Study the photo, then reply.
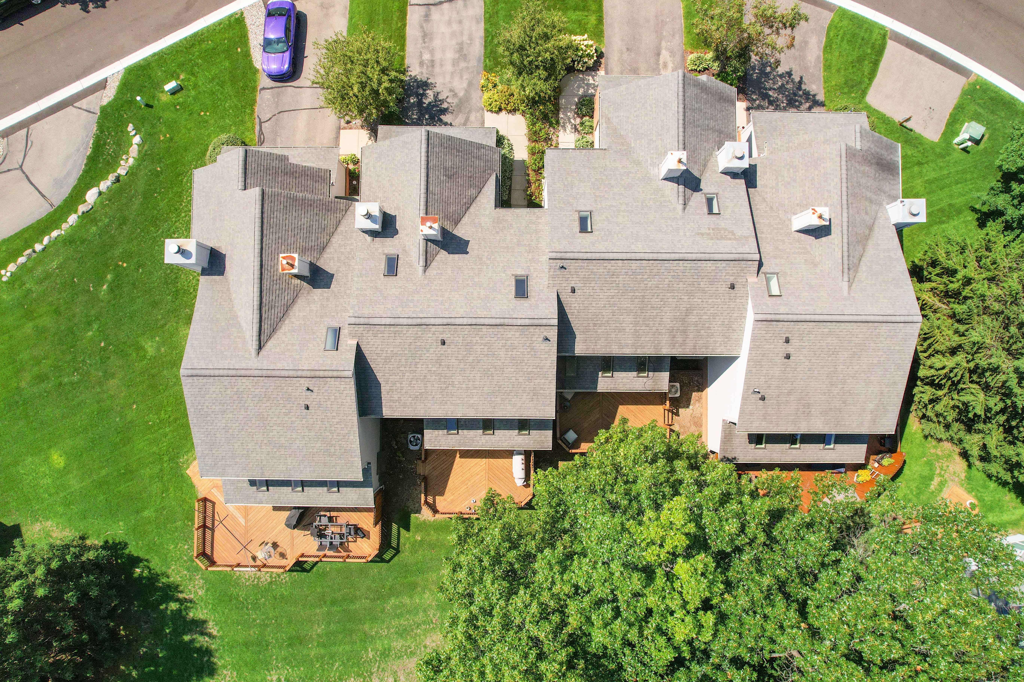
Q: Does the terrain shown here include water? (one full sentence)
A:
No, the picture contains no water.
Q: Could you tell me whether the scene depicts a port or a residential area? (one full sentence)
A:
What you see here is a residential area.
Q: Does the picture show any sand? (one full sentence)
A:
No, no sand is visible.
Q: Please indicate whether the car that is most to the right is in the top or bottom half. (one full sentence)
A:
The car that is most to the right is in the top half of the image.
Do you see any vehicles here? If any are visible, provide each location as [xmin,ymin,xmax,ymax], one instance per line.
[0,0,42,21]
[259,0,301,83]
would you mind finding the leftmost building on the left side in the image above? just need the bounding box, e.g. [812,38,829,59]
[164,144,385,509]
